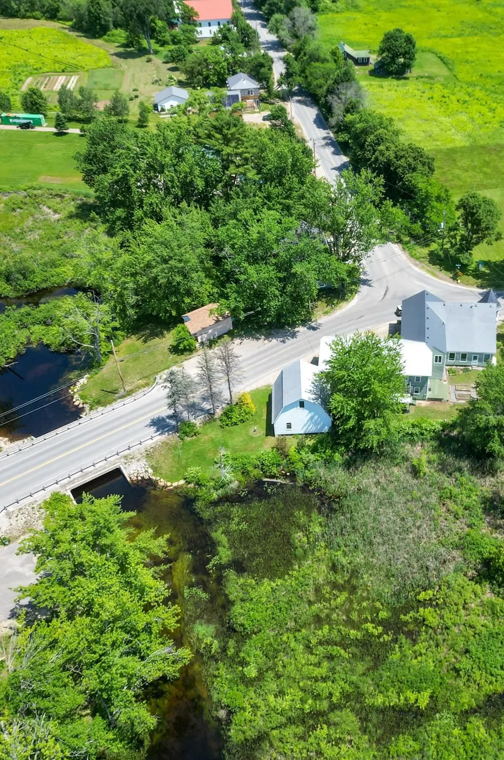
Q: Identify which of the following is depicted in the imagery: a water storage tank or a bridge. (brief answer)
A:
bridge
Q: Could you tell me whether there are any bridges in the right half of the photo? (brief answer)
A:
No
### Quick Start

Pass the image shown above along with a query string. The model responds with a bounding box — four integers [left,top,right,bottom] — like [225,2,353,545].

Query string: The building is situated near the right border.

[315,284,498,405]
